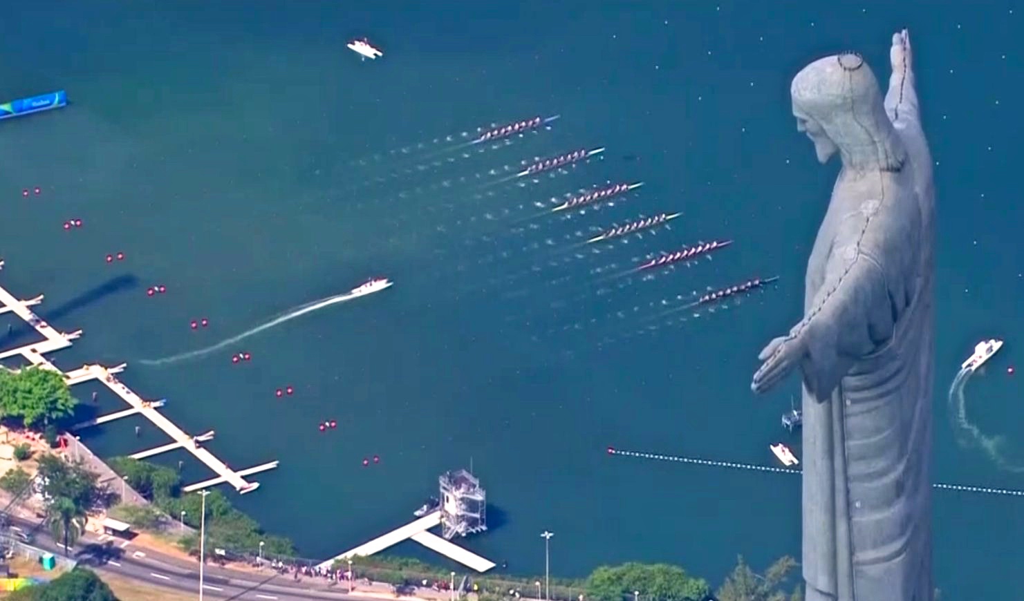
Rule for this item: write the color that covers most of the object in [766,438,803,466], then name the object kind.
white boat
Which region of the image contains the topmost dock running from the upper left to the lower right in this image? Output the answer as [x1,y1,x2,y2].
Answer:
[0,281,66,340]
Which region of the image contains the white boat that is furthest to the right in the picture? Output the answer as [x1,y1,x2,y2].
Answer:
[957,335,1006,372]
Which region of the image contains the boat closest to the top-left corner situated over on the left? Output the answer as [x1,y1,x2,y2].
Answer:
[344,38,385,60]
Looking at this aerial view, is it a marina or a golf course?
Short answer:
marina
